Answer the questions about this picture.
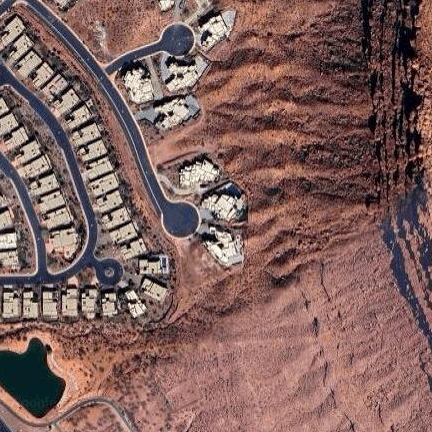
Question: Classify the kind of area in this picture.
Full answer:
This image shows a residential area.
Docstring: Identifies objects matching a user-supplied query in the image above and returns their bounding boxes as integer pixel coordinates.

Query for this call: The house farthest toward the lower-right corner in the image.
[197,223,248,272]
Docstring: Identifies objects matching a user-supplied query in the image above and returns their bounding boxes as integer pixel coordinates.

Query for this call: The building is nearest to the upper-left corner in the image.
[0,17,27,45]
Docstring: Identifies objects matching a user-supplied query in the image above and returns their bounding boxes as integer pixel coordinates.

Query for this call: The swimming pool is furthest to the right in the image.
[211,181,241,195]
